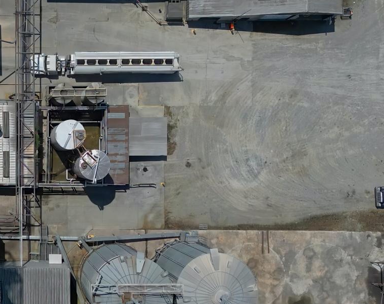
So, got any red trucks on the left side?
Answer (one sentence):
No, there's no red truck to be seen on the left side.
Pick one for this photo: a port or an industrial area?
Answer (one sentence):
It's an industrial area.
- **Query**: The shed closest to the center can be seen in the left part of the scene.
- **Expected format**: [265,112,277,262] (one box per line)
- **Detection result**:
[129,117,167,156]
